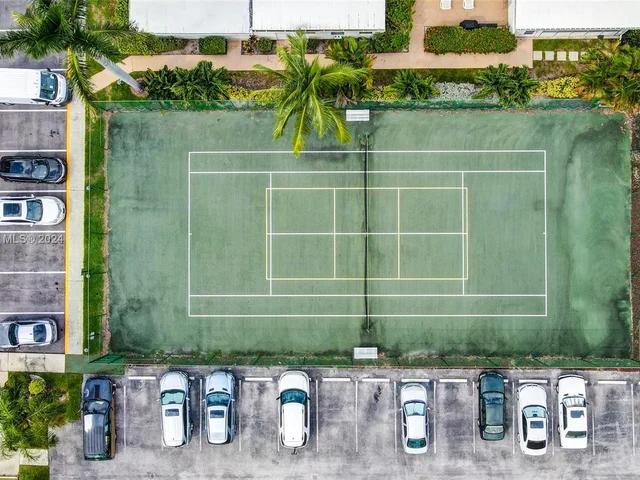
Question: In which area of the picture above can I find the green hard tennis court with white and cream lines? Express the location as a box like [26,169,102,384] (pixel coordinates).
[106,110,632,357]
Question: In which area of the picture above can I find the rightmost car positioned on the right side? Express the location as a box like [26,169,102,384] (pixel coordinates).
[553,374,590,448]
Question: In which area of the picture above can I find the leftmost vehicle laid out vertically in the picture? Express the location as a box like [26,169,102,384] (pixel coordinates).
[79,376,118,459]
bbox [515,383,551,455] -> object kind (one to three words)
car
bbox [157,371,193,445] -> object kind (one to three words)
car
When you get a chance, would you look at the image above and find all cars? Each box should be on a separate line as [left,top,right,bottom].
[2,152,68,187]
[157,371,193,445]
[478,371,509,440]
[79,376,118,459]
[200,371,238,444]
[0,318,58,352]
[276,371,314,449]
[515,383,551,455]
[0,192,67,229]
[553,374,590,448]
[399,382,432,453]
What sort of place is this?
sports ground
